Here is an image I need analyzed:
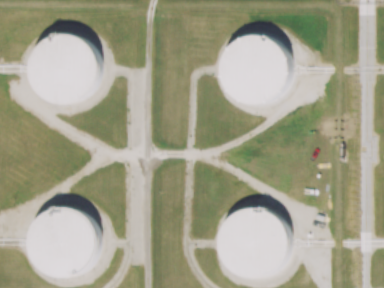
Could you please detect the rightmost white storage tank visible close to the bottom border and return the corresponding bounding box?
[216,206,292,280]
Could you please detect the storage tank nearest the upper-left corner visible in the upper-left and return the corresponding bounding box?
[28,34,104,106]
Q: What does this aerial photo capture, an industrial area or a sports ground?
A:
industrial area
